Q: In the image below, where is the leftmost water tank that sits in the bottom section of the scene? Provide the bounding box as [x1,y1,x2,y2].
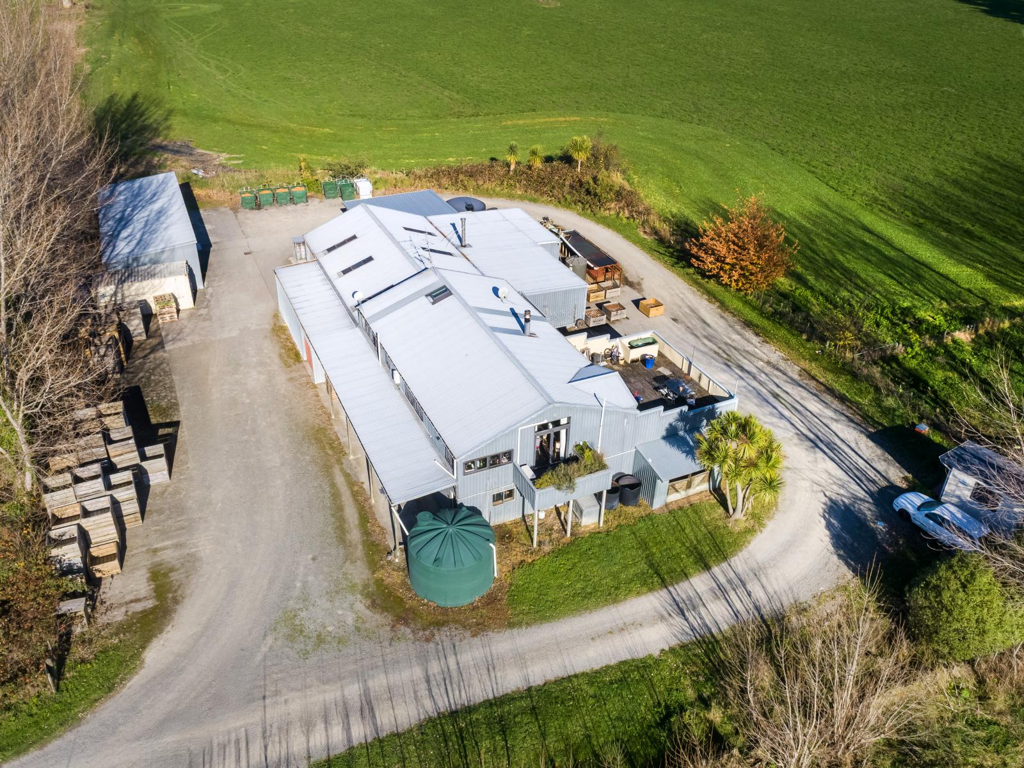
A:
[407,503,497,605]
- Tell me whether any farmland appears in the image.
Yes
